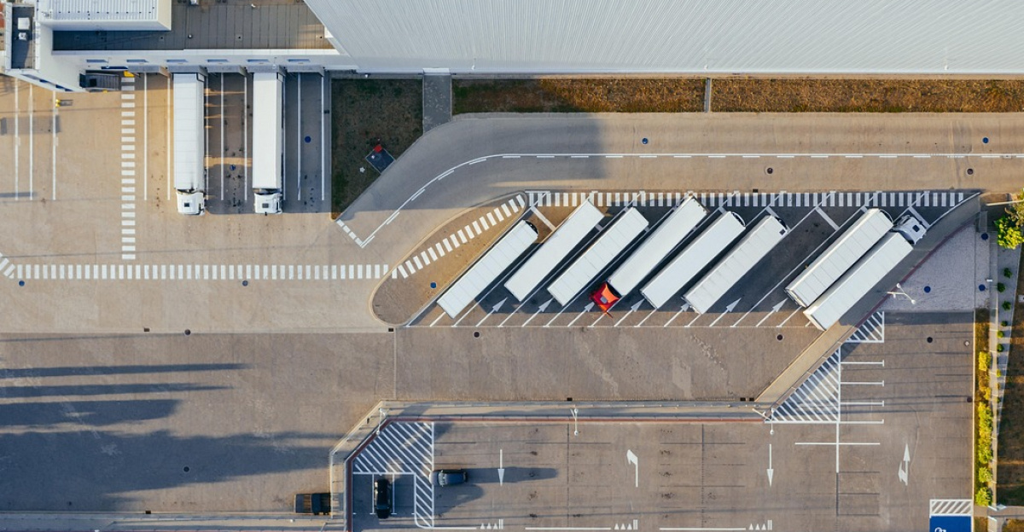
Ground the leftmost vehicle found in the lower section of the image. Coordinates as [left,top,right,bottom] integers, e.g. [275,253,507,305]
[293,494,329,518]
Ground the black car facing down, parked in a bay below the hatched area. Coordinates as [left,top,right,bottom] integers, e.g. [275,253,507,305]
[373,479,392,520]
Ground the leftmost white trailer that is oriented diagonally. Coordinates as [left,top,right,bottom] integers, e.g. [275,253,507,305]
[438,219,540,318]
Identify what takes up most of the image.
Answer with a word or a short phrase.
paved ground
